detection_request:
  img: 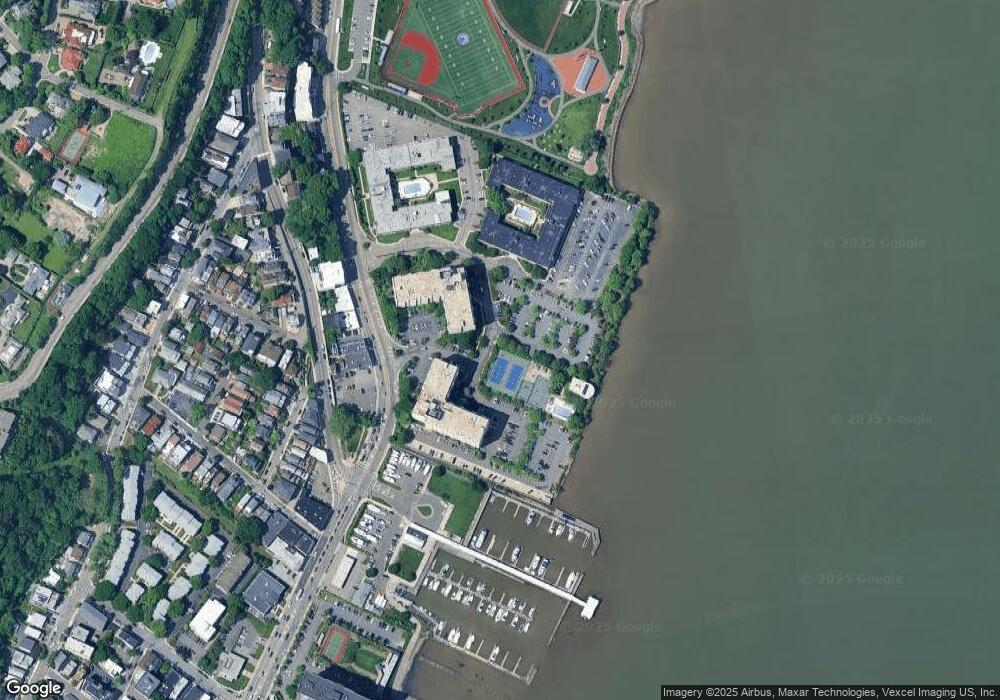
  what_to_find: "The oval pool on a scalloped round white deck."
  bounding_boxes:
[140,41,162,64]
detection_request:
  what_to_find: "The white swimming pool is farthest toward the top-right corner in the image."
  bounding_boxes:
[514,203,537,226]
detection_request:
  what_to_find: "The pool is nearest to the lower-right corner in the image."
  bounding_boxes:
[546,395,571,420]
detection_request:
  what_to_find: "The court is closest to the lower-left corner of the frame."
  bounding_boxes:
[321,626,350,663]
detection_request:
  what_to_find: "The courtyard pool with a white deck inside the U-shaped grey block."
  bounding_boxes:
[398,178,431,199]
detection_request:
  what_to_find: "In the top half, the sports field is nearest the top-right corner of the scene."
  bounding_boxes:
[492,0,562,49]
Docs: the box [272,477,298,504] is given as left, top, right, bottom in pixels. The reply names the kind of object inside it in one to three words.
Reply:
house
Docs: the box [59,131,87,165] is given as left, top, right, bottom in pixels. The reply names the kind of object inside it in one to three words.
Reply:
tennis court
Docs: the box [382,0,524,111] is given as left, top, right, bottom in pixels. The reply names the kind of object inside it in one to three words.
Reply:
sports field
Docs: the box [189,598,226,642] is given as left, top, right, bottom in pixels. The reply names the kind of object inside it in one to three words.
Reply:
building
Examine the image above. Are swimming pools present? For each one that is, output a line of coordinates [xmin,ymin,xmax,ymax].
[514,203,537,226]
[140,41,162,64]
[546,395,571,420]
[398,178,431,199]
